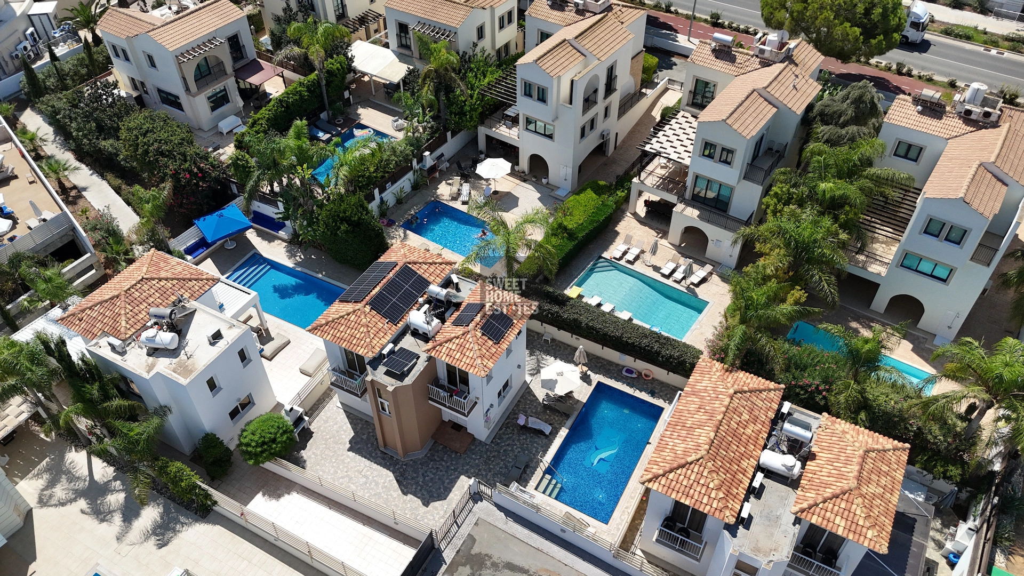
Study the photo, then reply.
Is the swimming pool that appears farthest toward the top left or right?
left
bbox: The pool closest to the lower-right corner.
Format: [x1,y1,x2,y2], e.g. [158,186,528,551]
[773,314,946,407]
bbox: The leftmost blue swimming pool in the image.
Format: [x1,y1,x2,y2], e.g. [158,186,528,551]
[220,245,349,334]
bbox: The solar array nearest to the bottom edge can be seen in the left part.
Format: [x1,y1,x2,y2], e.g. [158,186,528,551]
[381,347,419,379]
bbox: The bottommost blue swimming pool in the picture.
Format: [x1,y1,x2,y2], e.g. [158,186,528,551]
[520,372,675,537]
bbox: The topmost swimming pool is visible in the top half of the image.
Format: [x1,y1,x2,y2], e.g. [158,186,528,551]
[305,119,398,190]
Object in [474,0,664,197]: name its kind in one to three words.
house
